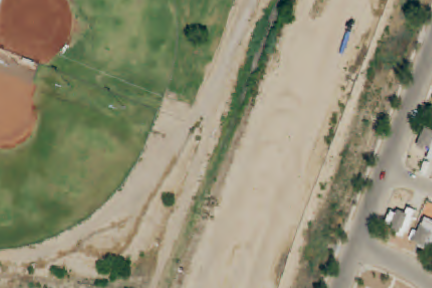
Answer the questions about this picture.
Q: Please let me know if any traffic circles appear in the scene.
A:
No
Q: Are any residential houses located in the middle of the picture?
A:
No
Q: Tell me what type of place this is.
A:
sports ground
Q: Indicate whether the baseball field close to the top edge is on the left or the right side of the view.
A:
left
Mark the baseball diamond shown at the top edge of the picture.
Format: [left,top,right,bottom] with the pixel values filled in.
[0,0,174,96]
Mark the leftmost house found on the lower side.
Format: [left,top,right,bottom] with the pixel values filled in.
[387,206,416,238]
